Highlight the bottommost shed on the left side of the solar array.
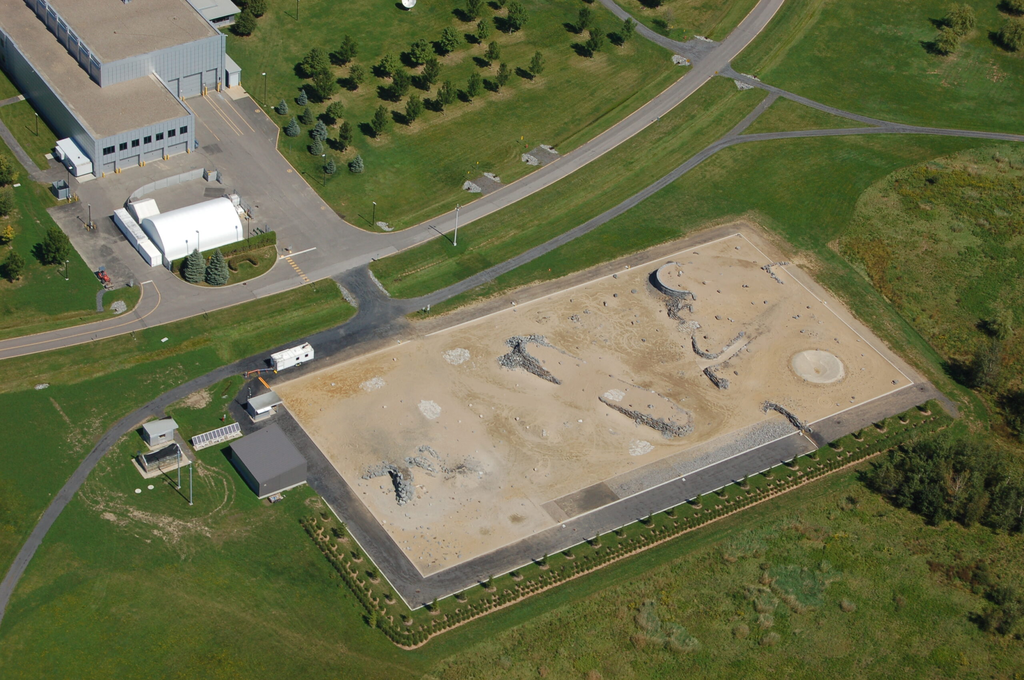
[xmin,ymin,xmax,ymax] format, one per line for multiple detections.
[131,439,189,479]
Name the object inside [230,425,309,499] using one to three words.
barn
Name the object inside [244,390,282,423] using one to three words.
shed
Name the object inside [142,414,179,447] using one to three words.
shed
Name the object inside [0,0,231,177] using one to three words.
building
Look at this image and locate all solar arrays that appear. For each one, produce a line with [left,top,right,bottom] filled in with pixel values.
[192,422,243,451]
